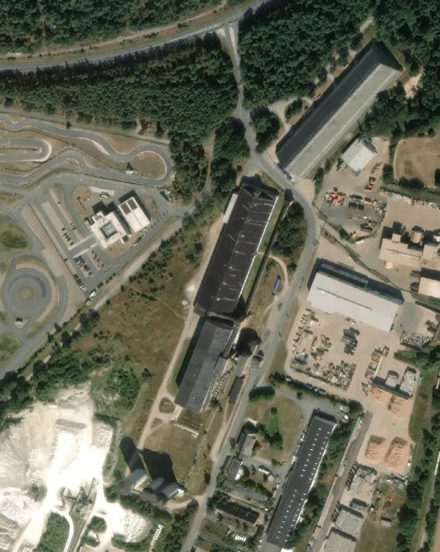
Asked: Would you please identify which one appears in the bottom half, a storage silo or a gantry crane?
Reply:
storage silo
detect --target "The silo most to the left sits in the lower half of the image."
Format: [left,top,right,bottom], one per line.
[118,467,150,499]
